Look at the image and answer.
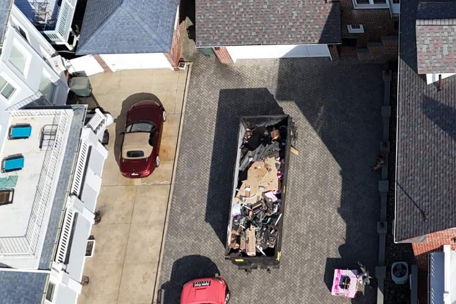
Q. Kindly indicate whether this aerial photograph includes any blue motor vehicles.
No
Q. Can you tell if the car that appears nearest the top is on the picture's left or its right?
left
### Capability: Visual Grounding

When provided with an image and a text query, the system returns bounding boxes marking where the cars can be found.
[116,95,168,182]
[186,278,237,304]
